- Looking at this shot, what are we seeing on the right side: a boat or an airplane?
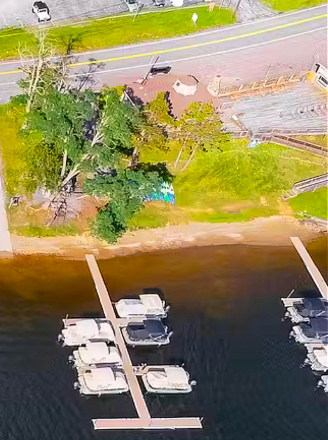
boat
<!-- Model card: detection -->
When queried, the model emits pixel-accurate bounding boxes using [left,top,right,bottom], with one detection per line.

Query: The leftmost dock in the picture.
[61,254,205,432]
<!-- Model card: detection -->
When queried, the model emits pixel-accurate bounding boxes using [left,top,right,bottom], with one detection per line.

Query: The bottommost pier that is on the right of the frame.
[279,237,328,307]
